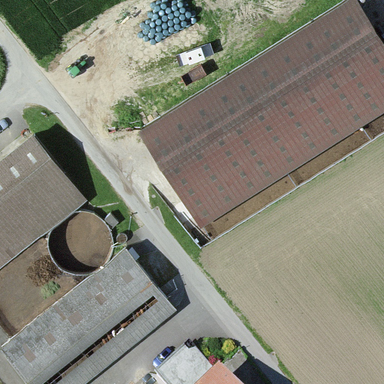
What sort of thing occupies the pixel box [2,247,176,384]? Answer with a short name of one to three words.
barn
